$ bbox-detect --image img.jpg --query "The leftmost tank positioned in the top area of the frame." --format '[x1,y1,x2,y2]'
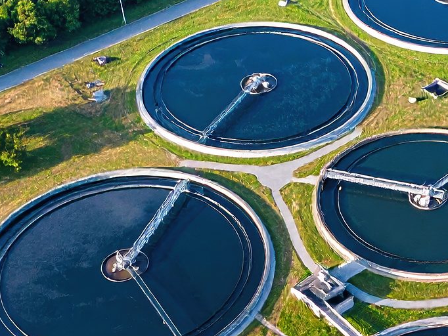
[139,24,375,159]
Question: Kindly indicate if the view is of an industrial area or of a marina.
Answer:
industrial area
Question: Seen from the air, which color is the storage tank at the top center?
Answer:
blue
